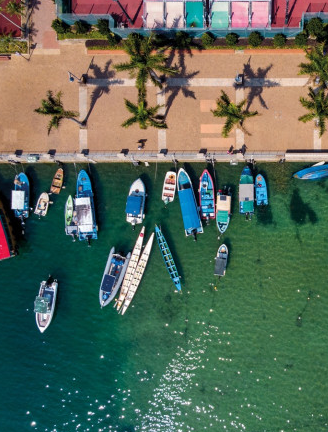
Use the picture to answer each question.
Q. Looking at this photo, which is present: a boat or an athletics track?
boat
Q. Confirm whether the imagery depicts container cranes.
No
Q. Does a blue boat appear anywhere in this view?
Yes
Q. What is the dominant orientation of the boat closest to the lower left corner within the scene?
vertically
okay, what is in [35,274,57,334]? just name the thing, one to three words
boat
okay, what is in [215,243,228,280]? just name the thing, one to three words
boat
